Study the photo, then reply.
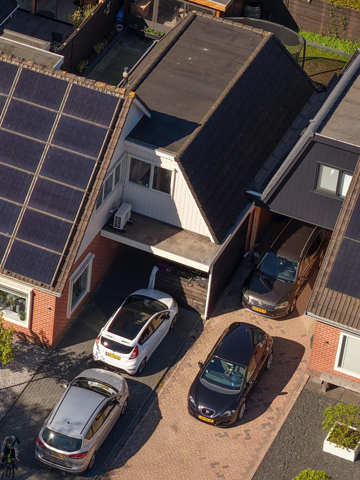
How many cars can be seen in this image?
4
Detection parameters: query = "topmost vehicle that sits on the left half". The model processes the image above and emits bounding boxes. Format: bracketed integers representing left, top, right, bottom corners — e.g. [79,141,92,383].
[92,283,181,378]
